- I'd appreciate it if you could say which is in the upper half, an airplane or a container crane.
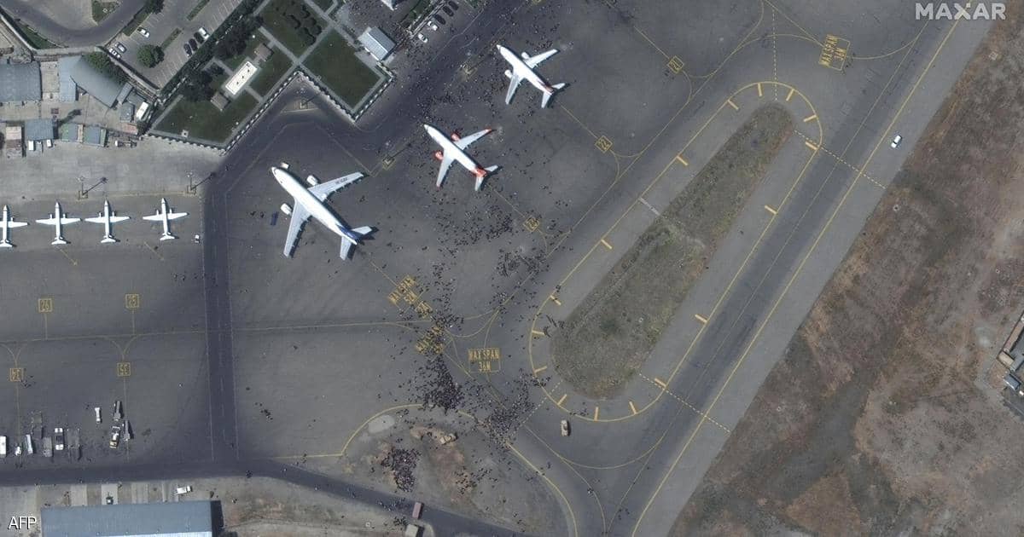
airplane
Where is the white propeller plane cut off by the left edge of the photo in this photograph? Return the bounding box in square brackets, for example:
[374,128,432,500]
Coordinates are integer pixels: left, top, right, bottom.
[0,206,27,246]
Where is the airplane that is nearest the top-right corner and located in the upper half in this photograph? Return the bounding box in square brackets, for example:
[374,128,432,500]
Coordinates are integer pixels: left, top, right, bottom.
[497,45,567,107]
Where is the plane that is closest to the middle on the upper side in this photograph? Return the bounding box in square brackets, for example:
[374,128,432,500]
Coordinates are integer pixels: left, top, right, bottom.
[424,124,498,189]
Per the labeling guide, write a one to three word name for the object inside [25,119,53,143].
building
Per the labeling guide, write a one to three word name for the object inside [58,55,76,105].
building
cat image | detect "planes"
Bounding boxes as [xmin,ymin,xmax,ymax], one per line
[144,199,187,239]
[497,45,567,107]
[86,201,129,241]
[0,206,27,246]
[272,167,372,258]
[424,124,498,189]
[36,203,80,243]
